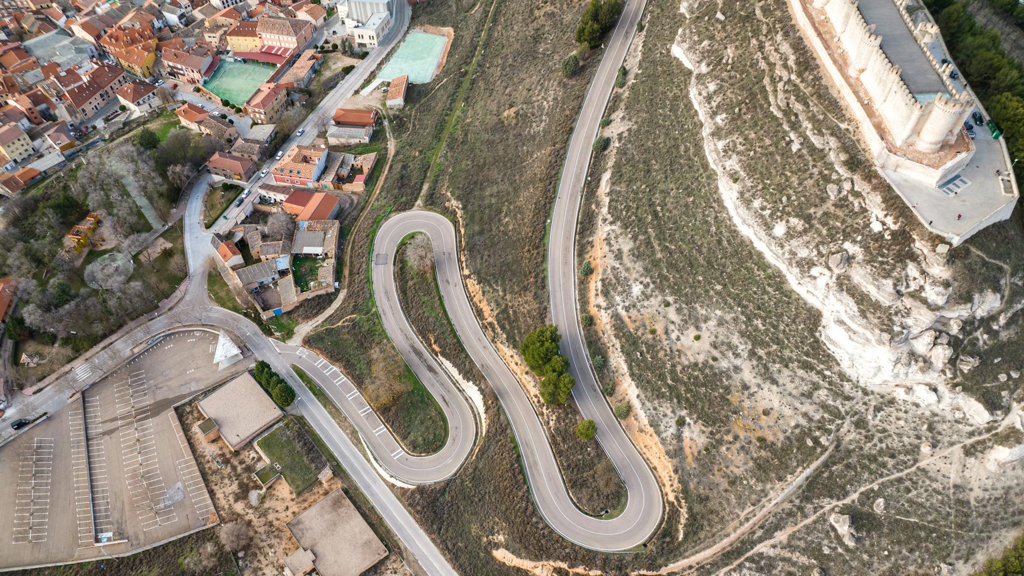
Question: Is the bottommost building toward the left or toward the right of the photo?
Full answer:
You can find the bottommost building on the left side of the picture.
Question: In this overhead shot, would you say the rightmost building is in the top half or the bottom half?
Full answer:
You can find the rightmost building in the top half.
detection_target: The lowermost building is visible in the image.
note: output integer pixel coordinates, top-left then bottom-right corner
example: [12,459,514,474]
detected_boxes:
[283,487,389,576]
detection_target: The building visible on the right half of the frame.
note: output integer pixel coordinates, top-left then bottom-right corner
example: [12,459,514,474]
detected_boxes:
[815,0,981,154]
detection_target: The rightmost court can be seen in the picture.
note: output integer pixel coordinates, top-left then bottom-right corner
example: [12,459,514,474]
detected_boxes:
[376,31,448,85]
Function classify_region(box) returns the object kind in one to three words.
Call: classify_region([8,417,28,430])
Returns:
vehicle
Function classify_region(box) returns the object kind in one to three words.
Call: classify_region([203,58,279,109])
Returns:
sports court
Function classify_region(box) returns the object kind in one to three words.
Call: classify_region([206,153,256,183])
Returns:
house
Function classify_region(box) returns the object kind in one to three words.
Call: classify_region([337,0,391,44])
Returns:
building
